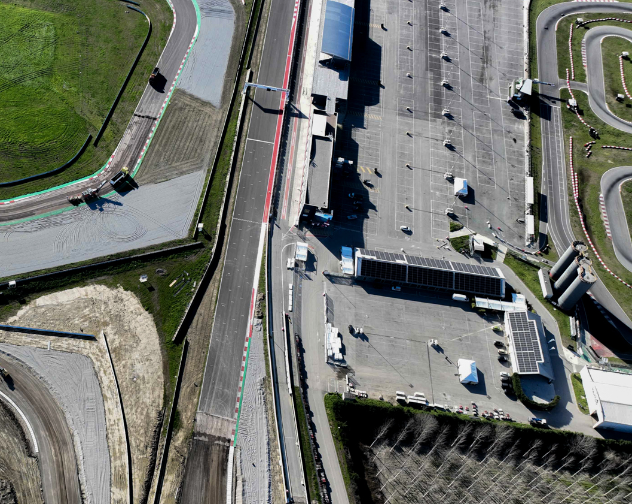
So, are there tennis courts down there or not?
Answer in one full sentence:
No, the frame has no tennis court in it.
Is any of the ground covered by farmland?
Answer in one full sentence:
Yes, the picture does contain farmland.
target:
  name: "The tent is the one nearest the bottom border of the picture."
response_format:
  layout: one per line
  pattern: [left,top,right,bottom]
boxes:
[457,359,478,386]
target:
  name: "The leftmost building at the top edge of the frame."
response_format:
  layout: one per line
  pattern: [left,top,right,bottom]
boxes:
[310,0,354,118]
